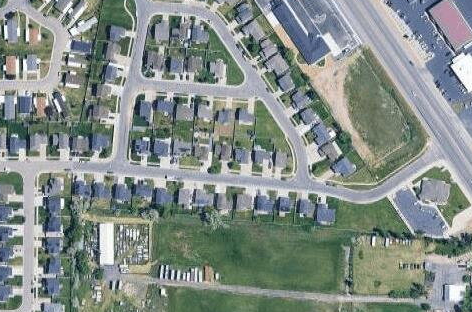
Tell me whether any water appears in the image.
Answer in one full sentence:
No, there is no water in the image.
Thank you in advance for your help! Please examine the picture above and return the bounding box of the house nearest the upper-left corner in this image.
[4,19,21,42]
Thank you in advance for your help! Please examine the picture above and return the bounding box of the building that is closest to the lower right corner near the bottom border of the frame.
[446,285,467,301]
